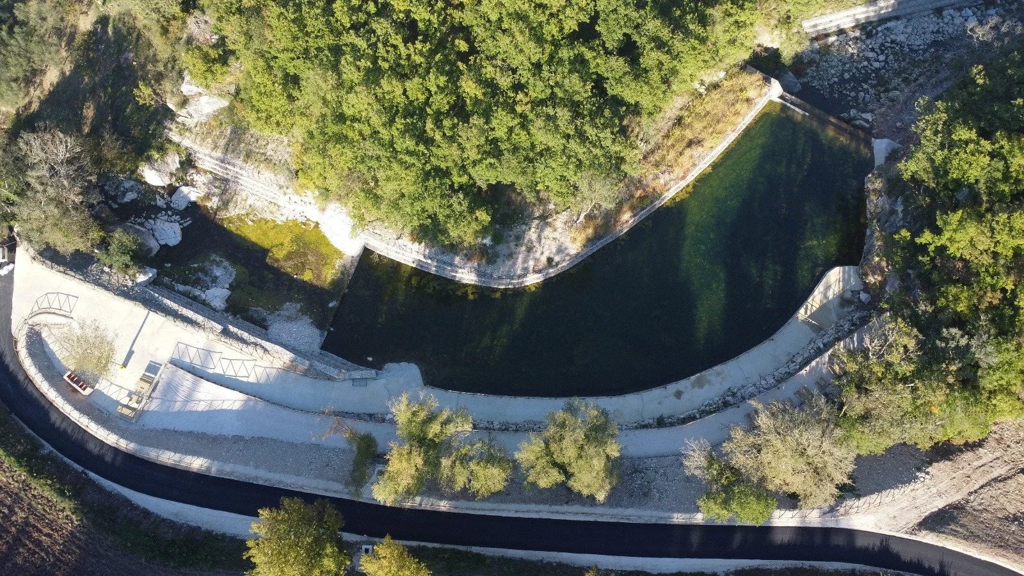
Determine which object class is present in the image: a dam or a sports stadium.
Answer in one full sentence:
I can see a dam in this picture.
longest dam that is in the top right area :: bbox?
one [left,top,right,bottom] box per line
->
[776,87,877,141]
